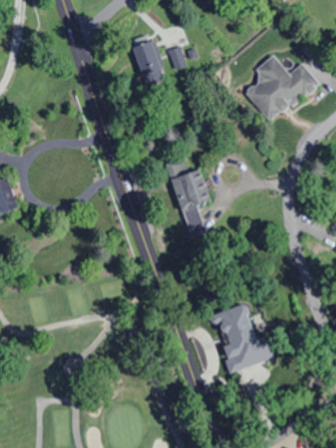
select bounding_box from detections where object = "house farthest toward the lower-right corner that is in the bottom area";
[210,302,274,375]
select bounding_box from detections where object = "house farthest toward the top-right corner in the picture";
[245,60,319,116]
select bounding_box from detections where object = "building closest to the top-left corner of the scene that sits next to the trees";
[132,40,164,85]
